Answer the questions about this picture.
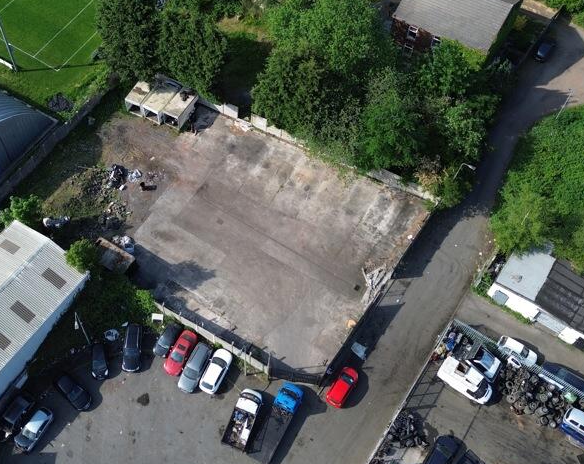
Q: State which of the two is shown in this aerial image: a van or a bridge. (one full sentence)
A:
This aerial view contains a van.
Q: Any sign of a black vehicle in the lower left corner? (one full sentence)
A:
Yes, there is a black vehicle in the lower left corner.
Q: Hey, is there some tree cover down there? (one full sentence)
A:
Yes, there's tree cover in this view.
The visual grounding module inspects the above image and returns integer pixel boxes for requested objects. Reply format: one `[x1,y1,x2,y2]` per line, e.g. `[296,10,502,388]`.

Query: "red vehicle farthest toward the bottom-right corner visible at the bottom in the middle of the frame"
[327,368,357,407]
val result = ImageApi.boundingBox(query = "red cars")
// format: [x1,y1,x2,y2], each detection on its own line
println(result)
[166,331,196,374]
[327,368,357,407]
